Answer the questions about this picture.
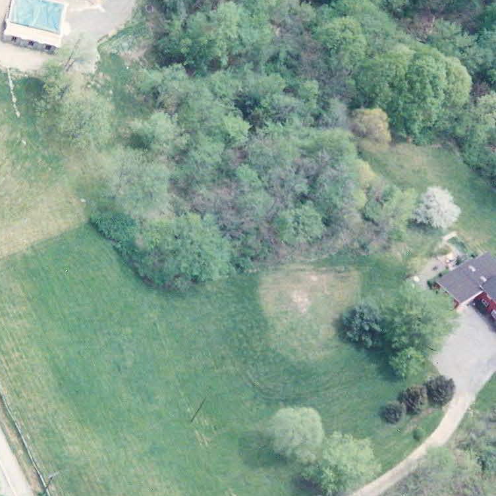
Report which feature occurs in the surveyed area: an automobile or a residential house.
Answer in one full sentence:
This aerial view contains a residential house.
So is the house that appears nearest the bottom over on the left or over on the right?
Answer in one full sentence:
It is on the right.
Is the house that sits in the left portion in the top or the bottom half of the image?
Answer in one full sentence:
The top half of the photo is where the house that sits in the left portion is.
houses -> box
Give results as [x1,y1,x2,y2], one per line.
[439,247,496,315]
[2,0,70,54]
